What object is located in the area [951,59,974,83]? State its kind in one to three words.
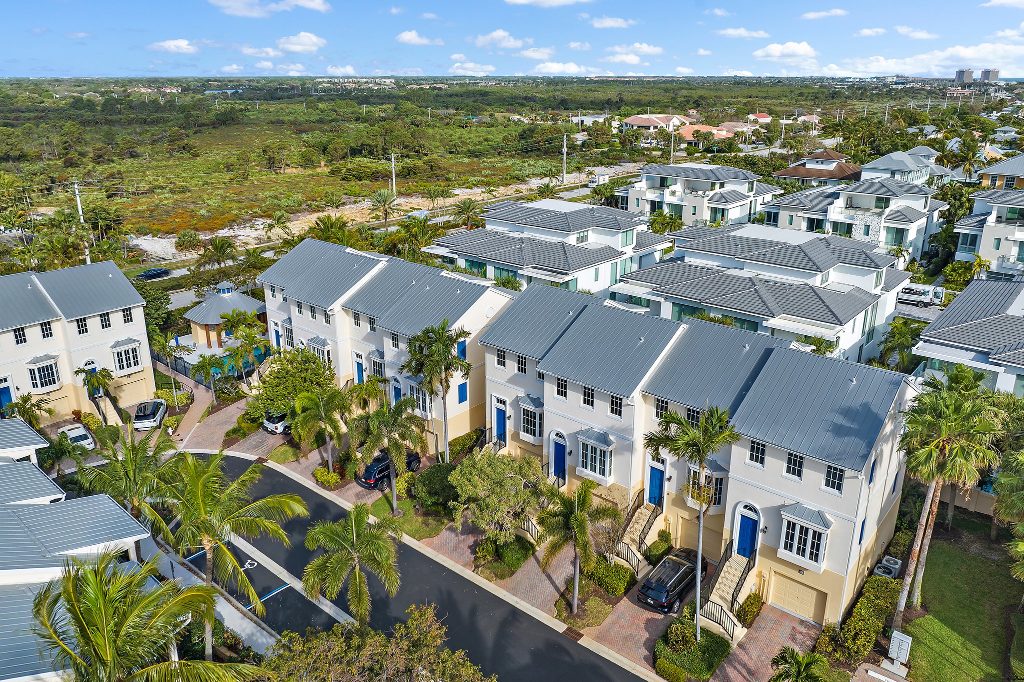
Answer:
building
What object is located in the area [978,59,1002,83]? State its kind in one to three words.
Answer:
building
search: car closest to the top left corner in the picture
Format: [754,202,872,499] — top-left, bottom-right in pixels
[134,265,174,278]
